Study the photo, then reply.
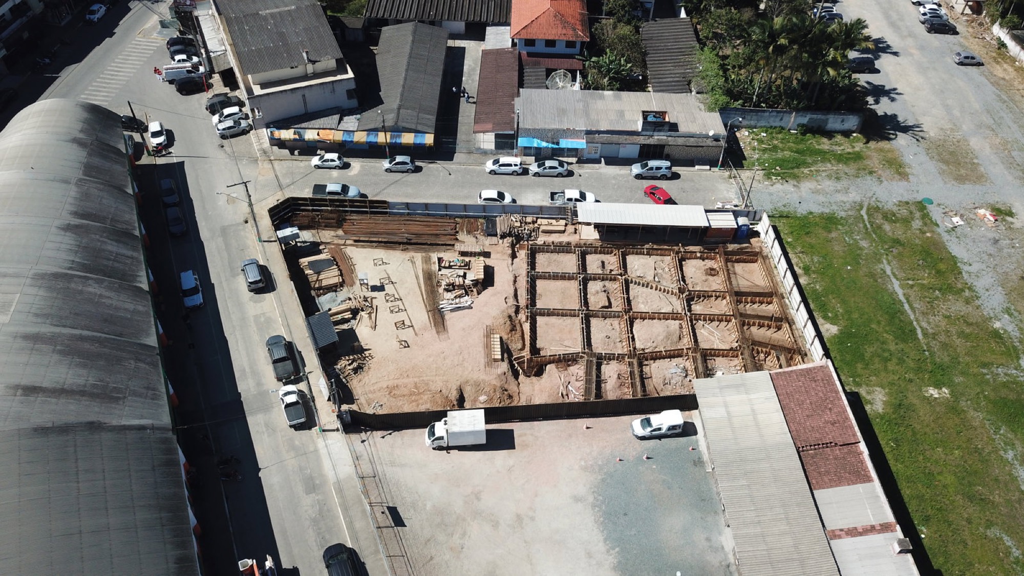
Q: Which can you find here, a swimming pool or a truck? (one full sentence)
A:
There is a truck in the scene.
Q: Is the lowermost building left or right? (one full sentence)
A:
It is on the right.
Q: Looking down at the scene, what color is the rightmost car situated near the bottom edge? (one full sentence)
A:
The rightmost car situated near the bottom edge is black.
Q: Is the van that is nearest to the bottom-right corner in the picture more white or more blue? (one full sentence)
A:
The color of the van that is nearest to the bottom-right corner is white.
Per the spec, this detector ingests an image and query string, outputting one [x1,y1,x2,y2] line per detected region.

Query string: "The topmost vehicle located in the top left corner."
[87,4,105,19]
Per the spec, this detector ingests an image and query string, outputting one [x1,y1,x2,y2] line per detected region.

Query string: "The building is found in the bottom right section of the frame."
[694,358,924,576]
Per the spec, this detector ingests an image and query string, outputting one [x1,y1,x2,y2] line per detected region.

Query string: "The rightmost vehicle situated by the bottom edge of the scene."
[324,542,362,576]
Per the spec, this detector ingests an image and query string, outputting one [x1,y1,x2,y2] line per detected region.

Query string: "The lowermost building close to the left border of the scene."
[0,99,213,576]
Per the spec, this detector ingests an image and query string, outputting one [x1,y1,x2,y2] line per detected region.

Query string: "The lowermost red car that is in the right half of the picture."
[643,185,683,205]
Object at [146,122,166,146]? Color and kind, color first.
white car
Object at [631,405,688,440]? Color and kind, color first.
white van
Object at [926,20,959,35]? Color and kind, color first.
black car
